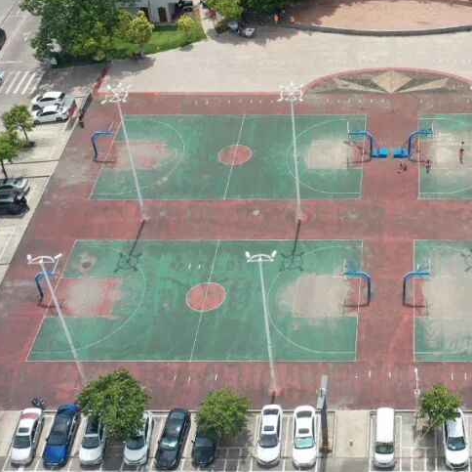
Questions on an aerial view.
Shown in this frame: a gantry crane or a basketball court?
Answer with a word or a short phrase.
basketball court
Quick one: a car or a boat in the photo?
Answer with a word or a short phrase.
car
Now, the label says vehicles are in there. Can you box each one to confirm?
[121,415,155,468]
[42,411,80,467]
[370,406,398,467]
[29,106,74,125]
[0,191,32,213]
[442,414,471,470]
[29,93,67,109]
[156,414,190,470]
[7,411,47,467]
[189,431,218,468]
[254,410,283,465]
[0,29,8,47]
[74,422,108,470]
[0,176,36,196]
[290,410,318,466]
